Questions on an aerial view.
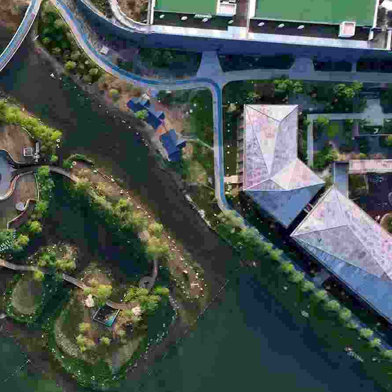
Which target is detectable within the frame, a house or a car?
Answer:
house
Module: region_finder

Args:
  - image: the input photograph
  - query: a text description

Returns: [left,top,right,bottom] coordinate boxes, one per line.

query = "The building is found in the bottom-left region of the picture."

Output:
[90,304,120,327]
